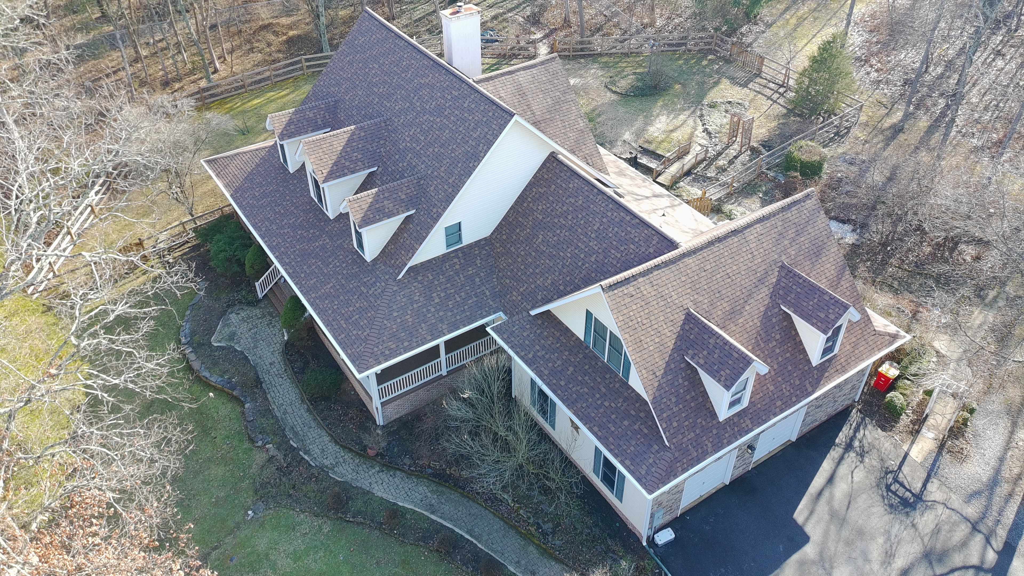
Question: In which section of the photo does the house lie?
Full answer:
The house sits in the center section of the image.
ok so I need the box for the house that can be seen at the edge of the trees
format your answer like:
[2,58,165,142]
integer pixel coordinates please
[197,0,917,548]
